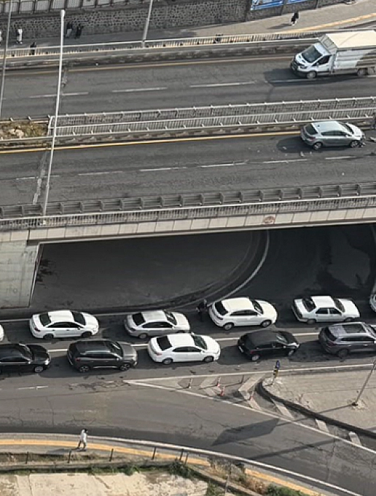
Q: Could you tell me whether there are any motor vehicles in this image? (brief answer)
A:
Yes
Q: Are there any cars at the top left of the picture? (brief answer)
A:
No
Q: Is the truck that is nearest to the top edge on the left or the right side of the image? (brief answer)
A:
right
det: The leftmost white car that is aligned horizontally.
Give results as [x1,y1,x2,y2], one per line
[28,310,101,343]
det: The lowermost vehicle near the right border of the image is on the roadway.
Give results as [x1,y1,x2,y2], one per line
[314,317,376,353]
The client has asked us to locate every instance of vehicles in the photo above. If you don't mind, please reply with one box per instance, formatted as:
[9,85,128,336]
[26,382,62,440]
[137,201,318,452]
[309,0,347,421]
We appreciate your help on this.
[208,295,278,331]
[297,121,365,152]
[232,325,298,359]
[366,288,376,314]
[65,337,138,374]
[145,331,222,366]
[314,317,376,353]
[290,293,359,324]
[295,26,376,80]
[120,304,192,337]
[28,310,101,343]
[0,345,51,378]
